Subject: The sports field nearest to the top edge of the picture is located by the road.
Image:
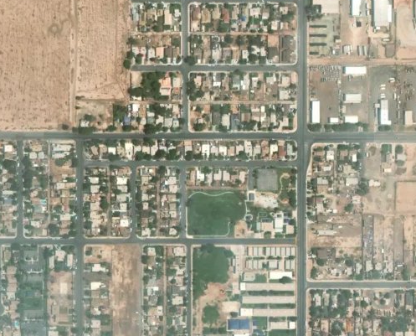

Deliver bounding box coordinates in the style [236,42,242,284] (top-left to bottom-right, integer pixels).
[184,191,251,239]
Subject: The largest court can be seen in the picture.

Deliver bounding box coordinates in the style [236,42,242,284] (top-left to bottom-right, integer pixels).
[257,169,277,191]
